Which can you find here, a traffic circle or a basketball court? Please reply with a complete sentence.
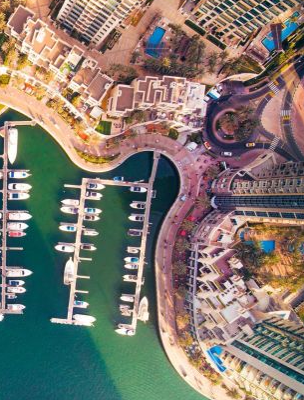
The one in the frame is a traffic circle.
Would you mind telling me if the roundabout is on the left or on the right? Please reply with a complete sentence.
The roundabout is on the right side of the image.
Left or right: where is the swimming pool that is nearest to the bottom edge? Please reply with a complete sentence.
It is on the right.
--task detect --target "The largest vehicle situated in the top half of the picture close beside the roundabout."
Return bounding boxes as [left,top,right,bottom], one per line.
[207,85,223,100]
